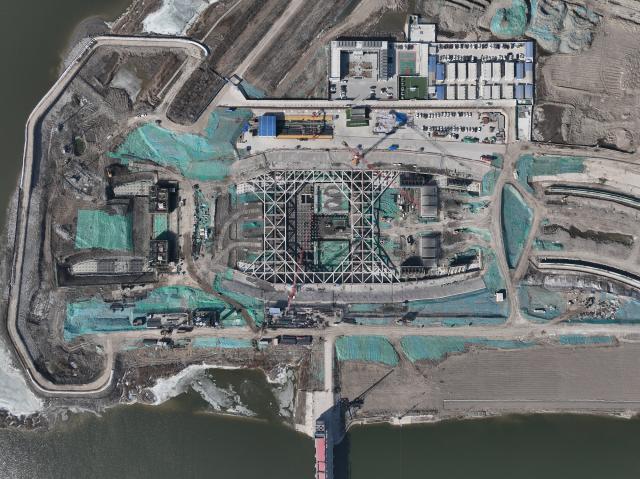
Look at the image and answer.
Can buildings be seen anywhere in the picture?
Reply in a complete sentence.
Yes, this view includes a building.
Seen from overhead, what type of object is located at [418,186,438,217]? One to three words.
building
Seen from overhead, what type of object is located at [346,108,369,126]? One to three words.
shed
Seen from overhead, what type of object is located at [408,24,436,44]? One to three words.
building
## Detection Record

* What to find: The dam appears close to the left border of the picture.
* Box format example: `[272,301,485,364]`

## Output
[3,32,213,398]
